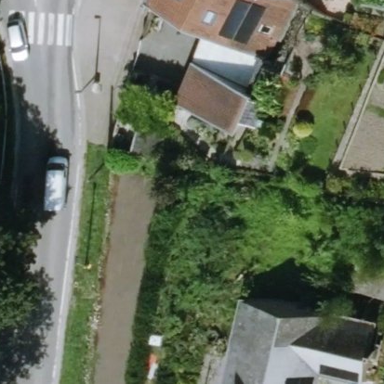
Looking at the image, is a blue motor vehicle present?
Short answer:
No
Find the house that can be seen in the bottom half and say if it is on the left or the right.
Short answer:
right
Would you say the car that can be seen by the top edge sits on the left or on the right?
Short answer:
left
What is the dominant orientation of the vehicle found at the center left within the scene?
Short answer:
from top to bottom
